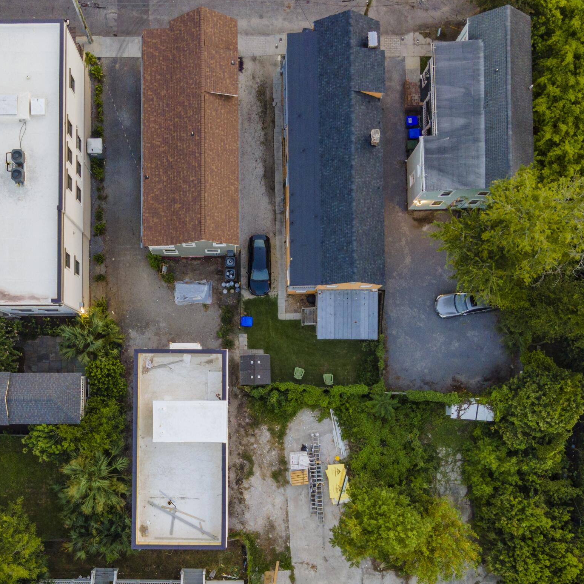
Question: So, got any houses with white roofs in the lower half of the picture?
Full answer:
Yes, a house with a white roof is visible in the lower half of the picture.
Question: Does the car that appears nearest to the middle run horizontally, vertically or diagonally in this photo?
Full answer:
The car that appears nearest to the middle runs vertically in the image.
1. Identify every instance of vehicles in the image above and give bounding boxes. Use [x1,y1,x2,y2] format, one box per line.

[246,233,274,296]
[434,288,501,320]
